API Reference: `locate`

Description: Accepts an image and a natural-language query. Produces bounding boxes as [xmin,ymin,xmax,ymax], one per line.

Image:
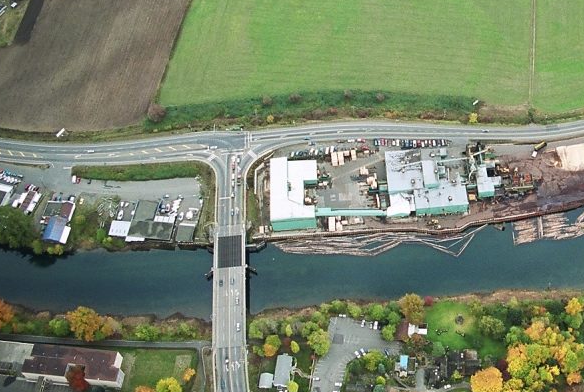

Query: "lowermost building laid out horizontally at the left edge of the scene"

[21,344,118,386]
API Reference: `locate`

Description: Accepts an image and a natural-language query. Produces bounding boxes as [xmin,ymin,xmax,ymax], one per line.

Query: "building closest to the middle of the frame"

[270,157,318,230]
